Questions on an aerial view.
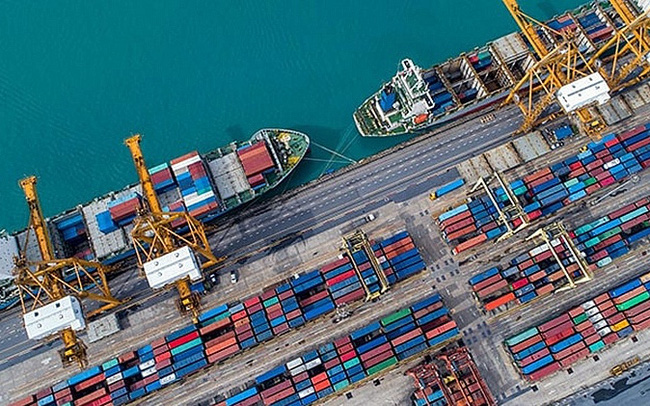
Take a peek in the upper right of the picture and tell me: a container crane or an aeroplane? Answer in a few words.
container crane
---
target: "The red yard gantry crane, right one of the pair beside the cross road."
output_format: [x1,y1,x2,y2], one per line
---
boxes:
[430,342,496,406]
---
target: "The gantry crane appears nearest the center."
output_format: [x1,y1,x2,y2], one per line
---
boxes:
[338,227,392,302]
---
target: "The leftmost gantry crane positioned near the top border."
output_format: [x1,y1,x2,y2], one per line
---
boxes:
[501,0,613,139]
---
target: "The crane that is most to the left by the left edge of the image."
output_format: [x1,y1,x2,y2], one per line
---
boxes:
[10,178,131,363]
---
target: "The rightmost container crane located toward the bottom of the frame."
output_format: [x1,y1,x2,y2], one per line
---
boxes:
[519,220,590,294]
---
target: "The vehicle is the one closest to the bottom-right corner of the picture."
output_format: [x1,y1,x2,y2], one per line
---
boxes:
[606,355,646,377]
